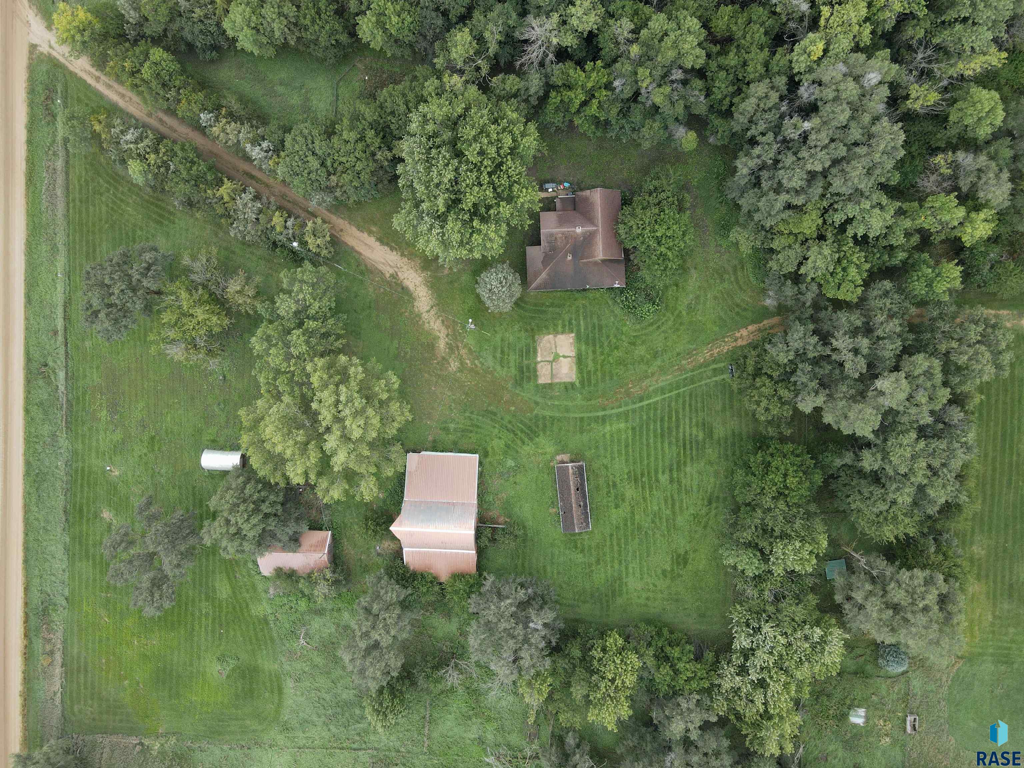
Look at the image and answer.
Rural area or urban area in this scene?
rural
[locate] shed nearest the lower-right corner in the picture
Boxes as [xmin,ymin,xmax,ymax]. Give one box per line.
[828,561,850,583]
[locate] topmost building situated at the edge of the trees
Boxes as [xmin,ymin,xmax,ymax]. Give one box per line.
[526,188,625,292]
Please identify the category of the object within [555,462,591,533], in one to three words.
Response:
shed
